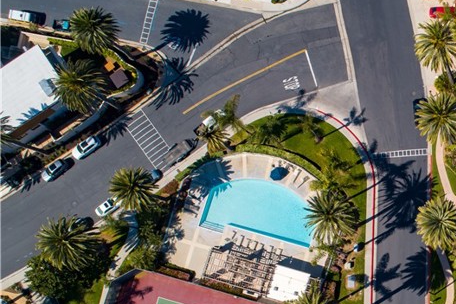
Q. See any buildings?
Yes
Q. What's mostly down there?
paved ground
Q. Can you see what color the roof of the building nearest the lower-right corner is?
white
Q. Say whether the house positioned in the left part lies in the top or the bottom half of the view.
top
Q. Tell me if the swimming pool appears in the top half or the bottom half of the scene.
bottom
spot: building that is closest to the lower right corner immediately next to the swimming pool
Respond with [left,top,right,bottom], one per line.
[270,265,313,301]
